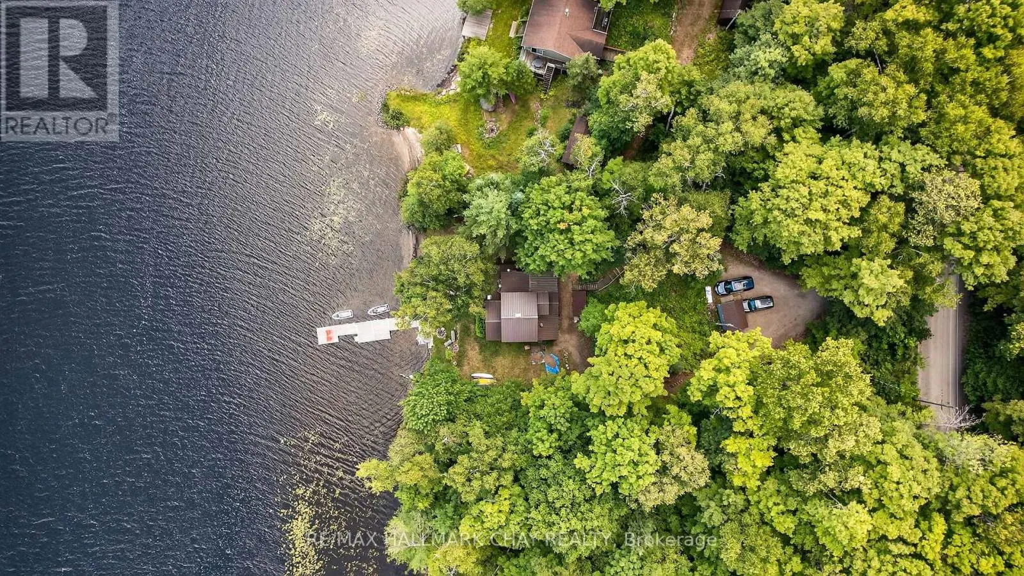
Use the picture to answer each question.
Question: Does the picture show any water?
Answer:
Yes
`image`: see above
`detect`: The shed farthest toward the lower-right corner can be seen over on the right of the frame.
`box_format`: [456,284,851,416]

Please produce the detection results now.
[714,299,747,329]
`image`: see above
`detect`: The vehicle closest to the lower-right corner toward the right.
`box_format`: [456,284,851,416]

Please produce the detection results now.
[744,295,775,312]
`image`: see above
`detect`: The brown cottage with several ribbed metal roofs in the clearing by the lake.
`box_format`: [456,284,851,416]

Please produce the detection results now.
[486,261,559,342]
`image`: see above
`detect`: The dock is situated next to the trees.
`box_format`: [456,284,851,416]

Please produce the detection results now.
[317,317,424,344]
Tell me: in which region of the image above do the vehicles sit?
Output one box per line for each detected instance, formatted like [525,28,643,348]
[744,295,775,312]
[713,277,754,295]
